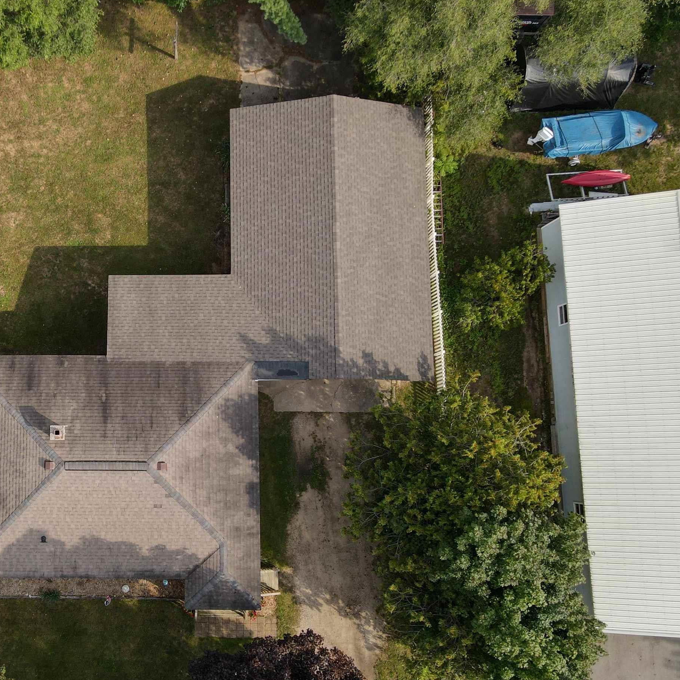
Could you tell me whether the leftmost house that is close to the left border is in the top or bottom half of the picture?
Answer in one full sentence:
You can find the leftmost house that is close to the left border in the bottom half.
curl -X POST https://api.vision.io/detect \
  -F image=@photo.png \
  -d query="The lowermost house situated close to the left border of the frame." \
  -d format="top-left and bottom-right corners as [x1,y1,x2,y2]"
[0,354,263,613]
